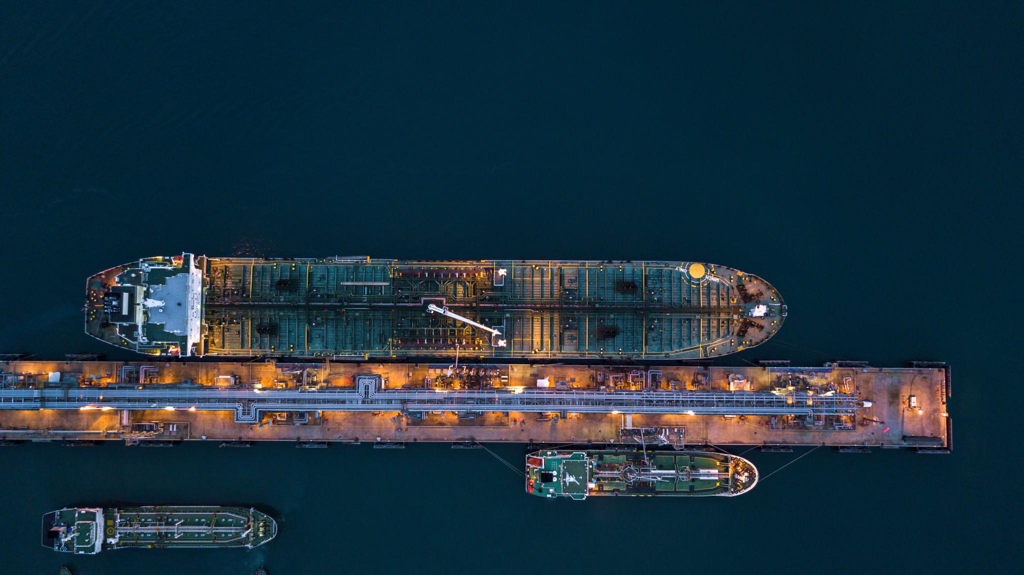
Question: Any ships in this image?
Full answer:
Yes, a ship is visible in the scene.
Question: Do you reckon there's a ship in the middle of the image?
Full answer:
Yes, looking in the middle of the image, one can make out a ship.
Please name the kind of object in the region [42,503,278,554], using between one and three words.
ship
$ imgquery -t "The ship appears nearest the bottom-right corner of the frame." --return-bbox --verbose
[526,448,758,500]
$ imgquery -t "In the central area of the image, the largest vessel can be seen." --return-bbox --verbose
[81,251,787,360]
